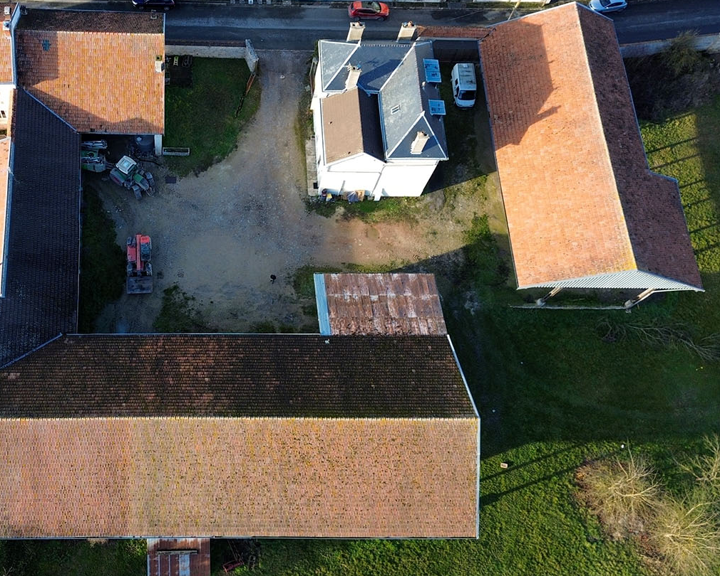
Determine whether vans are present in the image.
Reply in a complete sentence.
Yes, there's a van down there.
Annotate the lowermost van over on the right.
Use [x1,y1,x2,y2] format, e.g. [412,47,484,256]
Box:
[451,56,481,109]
